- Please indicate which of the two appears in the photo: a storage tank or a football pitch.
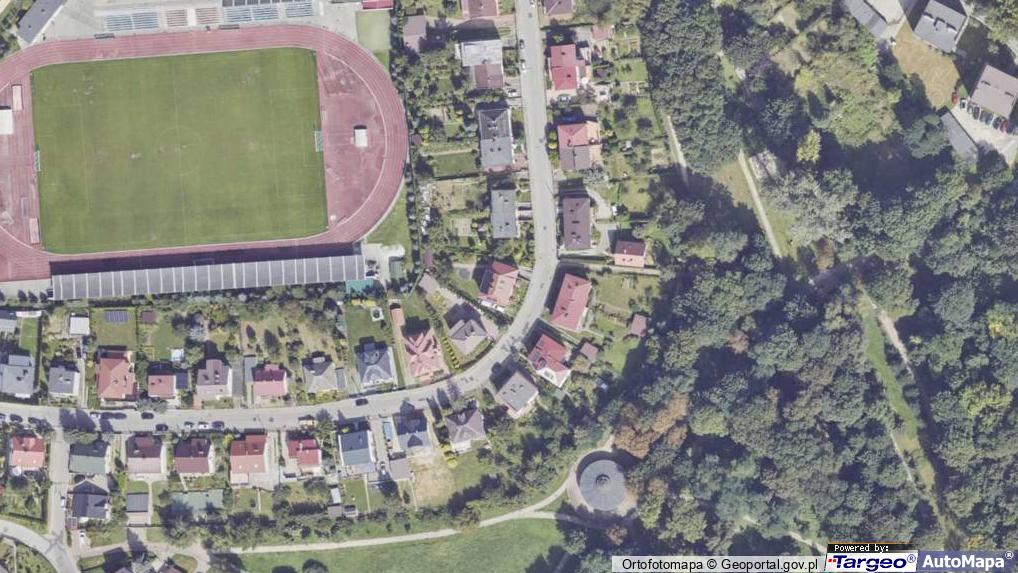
football pitch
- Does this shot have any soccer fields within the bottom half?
No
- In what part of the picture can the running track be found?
top left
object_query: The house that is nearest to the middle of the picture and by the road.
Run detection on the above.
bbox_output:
[482,261,522,305]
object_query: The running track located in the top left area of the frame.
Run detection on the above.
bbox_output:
[0,24,412,282]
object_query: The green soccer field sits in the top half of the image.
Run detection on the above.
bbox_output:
[32,49,328,252]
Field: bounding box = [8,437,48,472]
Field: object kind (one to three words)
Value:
house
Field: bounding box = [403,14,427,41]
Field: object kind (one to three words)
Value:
building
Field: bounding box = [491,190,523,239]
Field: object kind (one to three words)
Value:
house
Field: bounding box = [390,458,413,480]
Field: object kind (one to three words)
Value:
building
